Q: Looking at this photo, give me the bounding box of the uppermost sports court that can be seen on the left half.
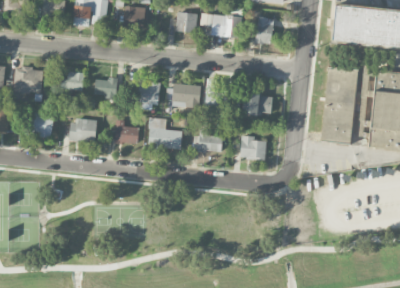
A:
[9,182,39,216]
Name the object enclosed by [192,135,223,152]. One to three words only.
house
